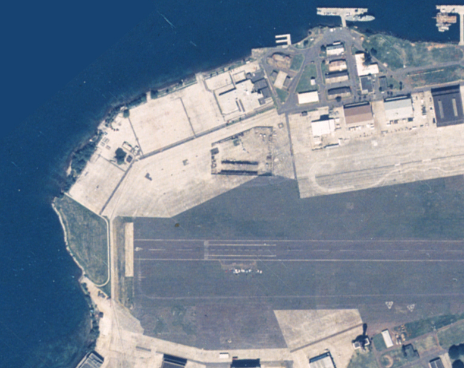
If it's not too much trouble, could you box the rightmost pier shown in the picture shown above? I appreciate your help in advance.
[435,5,464,45]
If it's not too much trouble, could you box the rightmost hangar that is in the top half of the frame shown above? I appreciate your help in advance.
[432,87,464,127]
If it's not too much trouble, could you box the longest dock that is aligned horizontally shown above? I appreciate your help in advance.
[316,8,368,27]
